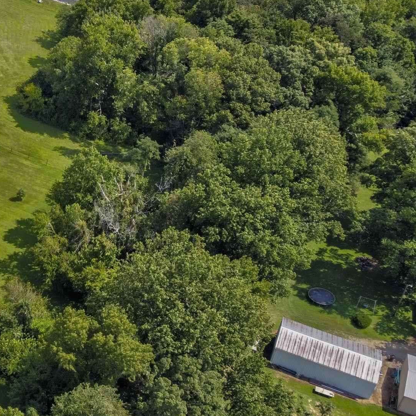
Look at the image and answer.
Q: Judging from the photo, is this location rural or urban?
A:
rural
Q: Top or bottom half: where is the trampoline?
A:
bottom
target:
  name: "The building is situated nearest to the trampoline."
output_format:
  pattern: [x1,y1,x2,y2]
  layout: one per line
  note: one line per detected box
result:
[270,316,382,399]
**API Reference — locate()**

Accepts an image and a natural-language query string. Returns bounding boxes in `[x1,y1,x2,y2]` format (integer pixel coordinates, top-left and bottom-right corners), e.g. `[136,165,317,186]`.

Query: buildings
[270,316,382,399]
[398,352,416,416]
